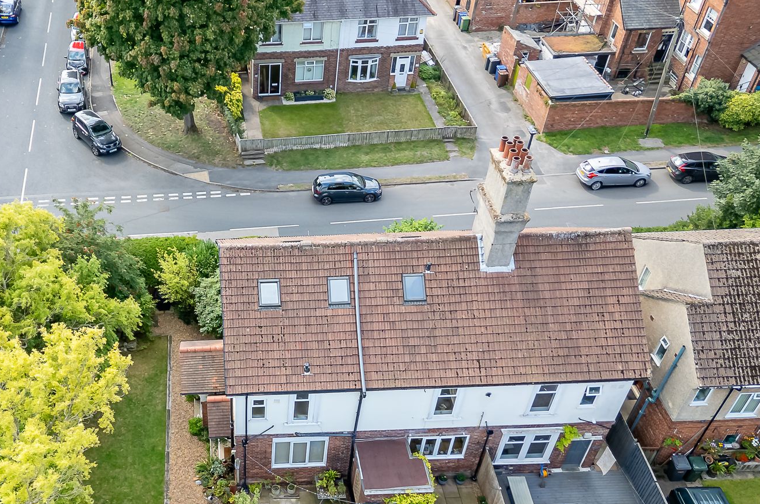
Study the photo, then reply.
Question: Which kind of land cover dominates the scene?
buildings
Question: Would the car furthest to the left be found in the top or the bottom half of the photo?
top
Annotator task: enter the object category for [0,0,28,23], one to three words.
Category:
car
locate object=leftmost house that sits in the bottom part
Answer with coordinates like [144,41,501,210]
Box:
[179,135,650,504]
